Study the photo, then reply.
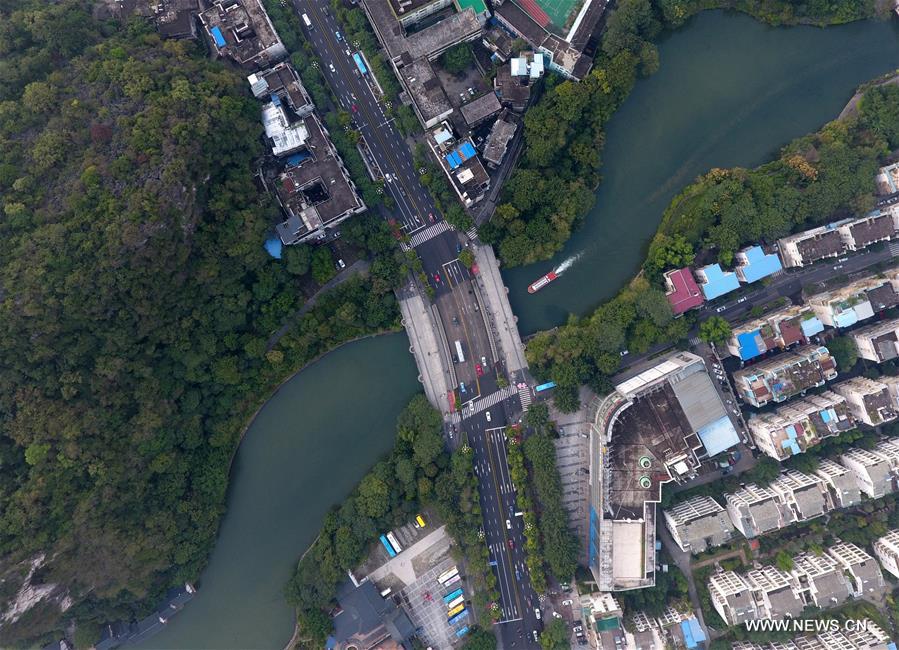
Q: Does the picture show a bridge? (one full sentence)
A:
Yes, you can see a bridge in this photo.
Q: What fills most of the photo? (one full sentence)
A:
The scene is dominated by trees.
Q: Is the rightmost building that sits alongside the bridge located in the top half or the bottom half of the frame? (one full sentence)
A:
The bottom half of the photo is where the rightmost building that sits alongside the bridge is.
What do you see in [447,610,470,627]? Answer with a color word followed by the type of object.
blue vehicle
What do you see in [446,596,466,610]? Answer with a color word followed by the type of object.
white vehicle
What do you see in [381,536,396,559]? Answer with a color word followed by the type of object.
blue vehicle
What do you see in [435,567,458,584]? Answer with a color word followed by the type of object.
white vehicle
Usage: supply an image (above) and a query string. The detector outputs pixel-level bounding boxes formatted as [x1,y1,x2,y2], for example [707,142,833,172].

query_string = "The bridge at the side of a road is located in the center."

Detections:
[400,244,526,412]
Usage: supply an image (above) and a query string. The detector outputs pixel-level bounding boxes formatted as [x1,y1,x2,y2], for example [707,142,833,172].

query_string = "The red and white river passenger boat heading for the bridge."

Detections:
[529,272,559,291]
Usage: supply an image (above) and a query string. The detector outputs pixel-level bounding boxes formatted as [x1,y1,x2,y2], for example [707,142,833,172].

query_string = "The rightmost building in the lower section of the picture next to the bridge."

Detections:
[585,350,740,591]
